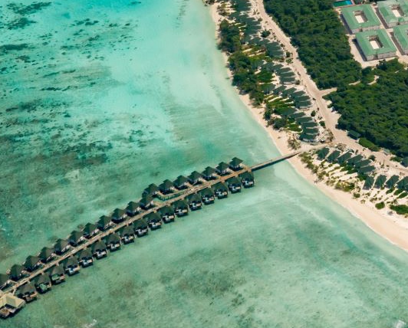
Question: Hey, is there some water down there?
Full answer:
Yes, there's water in this view.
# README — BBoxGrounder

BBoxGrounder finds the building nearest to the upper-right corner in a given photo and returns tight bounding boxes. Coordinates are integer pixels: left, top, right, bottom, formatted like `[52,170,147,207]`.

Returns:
[378,0,408,28]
